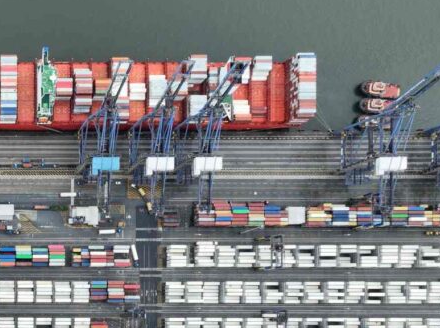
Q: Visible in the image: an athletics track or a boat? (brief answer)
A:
boat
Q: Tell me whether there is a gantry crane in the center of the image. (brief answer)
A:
Yes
